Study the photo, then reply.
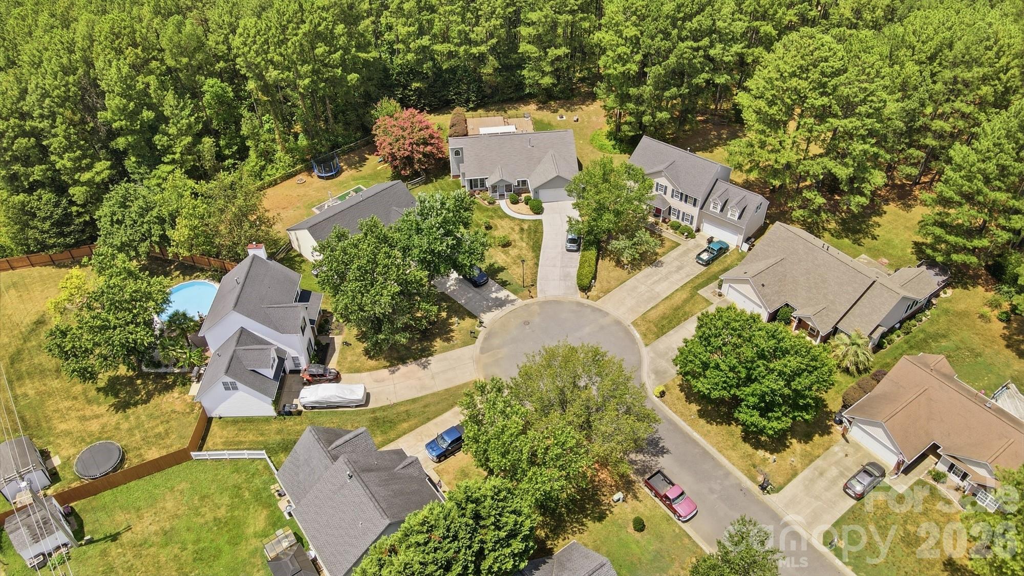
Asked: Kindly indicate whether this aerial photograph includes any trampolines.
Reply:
Yes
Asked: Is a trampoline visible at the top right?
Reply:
No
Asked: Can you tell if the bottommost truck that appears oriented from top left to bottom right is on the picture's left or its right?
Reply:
right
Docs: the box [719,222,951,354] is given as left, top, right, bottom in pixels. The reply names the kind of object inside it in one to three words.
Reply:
house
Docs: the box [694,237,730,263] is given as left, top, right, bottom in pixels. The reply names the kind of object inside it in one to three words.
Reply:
truck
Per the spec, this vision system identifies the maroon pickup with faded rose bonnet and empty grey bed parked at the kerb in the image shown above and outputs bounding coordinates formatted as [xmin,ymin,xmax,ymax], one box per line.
[648,469,702,521]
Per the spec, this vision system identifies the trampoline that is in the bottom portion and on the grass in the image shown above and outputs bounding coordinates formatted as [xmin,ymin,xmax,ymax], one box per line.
[74,441,127,484]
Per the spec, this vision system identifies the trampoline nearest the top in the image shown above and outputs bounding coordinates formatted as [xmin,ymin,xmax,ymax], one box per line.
[308,150,341,181]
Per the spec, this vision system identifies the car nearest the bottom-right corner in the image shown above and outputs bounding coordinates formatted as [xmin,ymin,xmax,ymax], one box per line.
[846,453,892,493]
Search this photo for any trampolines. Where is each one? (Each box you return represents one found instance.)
[74,441,127,484]
[308,150,341,181]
